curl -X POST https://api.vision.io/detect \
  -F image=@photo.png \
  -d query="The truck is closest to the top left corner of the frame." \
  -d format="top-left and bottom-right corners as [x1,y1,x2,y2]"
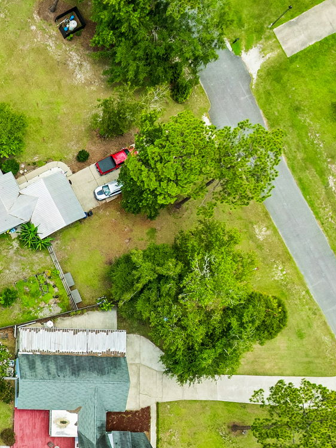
[94,145,129,174]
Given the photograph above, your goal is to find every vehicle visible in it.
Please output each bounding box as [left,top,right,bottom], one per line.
[96,174,130,201]
[94,145,129,174]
